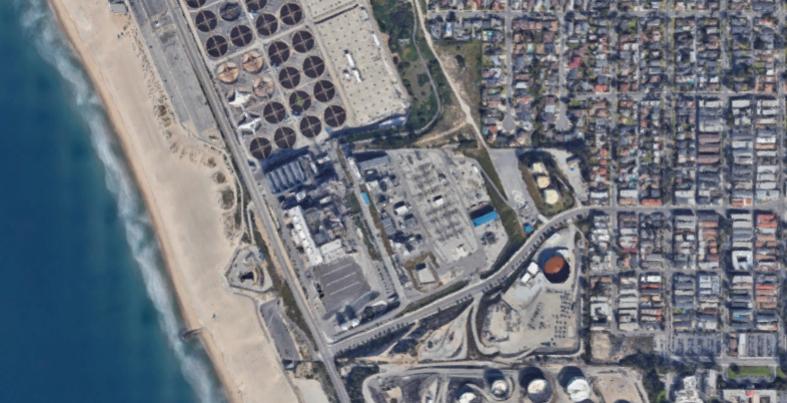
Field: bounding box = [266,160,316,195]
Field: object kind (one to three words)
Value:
building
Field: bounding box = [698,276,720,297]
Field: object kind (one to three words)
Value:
building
